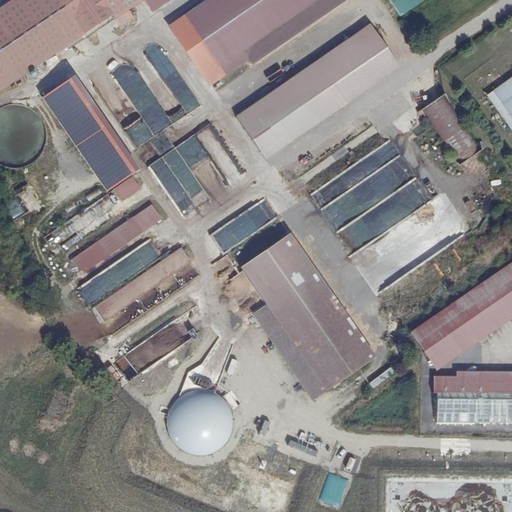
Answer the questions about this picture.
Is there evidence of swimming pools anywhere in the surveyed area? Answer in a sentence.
Yes, there is a swimming pool in the image.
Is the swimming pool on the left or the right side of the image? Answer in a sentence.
The swimming pool is on the right side of the image.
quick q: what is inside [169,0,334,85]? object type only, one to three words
barn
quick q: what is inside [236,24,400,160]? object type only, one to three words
barn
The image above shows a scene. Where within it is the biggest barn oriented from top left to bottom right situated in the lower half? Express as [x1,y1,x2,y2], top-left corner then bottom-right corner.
[240,233,374,391]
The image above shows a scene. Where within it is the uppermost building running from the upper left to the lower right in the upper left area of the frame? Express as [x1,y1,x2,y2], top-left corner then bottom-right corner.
[44,74,140,190]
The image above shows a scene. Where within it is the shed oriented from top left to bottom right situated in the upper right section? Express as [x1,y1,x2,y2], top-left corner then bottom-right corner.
[422,94,482,163]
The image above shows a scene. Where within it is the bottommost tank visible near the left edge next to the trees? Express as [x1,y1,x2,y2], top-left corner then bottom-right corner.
[0,103,46,168]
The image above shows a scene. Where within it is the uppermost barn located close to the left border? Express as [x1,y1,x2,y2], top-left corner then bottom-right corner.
[0,0,140,92]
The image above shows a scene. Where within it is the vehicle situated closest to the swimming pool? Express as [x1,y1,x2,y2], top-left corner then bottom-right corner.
[346,456,358,474]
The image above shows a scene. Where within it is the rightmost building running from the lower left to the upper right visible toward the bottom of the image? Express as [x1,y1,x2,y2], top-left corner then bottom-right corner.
[412,263,512,371]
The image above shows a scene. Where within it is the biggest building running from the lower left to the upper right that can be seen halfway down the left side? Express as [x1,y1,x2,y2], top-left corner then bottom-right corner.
[70,204,162,274]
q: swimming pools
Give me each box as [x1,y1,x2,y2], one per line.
[318,470,352,510]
